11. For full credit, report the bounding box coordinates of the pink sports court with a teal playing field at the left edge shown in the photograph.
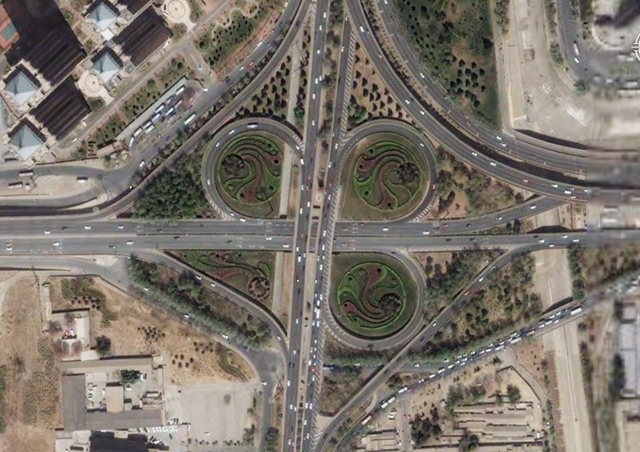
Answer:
[0,3,20,50]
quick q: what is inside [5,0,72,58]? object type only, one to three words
building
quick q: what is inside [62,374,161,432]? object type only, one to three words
building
